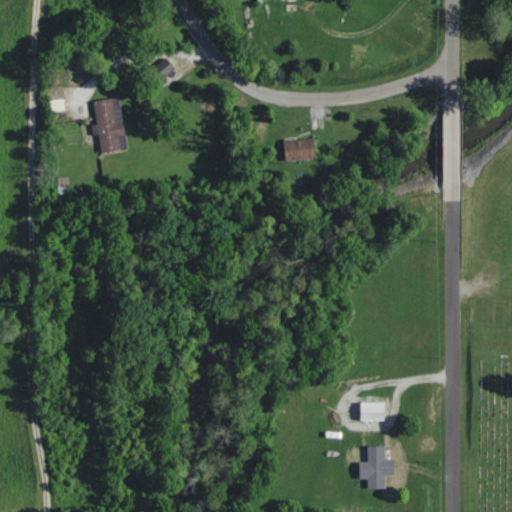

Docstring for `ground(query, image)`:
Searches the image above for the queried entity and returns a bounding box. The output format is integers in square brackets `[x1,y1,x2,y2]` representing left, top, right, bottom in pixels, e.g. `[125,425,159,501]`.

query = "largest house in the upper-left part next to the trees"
[94,100,127,156]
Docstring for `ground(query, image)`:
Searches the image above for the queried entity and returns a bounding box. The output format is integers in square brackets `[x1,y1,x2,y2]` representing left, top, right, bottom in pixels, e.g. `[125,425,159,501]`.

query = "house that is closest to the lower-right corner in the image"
[360,446,394,490]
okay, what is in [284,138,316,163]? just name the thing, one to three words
house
